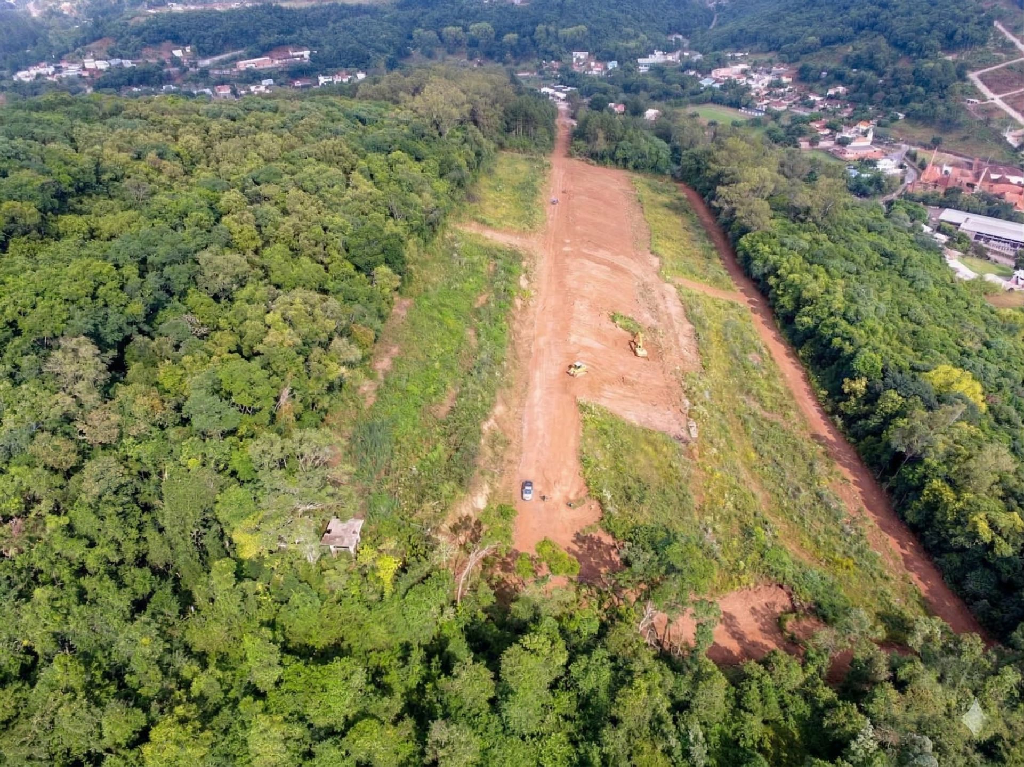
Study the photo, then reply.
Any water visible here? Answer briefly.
No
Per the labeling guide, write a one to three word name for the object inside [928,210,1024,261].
building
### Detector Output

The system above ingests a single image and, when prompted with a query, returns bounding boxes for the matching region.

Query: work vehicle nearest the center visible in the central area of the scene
[563,360,588,380]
